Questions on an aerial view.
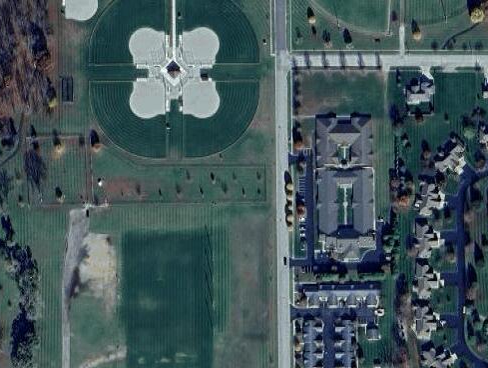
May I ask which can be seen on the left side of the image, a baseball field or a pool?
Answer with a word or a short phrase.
baseball field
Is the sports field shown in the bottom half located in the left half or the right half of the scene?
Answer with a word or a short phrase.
left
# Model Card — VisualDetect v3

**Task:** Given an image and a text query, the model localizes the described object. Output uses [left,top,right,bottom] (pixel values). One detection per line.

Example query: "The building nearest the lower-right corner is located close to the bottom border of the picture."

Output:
[423,348,457,368]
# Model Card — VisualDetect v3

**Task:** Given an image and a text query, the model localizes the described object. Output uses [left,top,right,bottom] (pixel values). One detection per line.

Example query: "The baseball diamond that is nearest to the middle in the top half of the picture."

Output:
[182,81,259,158]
